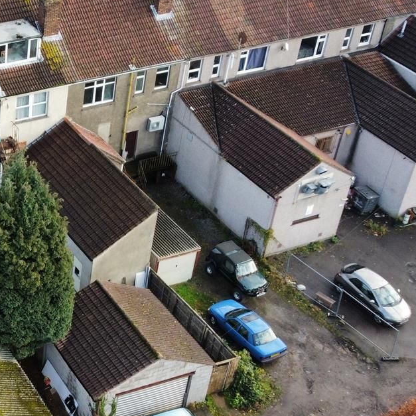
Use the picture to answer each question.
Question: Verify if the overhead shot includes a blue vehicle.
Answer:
Yes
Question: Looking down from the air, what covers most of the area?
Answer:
buildings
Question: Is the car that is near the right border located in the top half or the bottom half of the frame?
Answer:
bottom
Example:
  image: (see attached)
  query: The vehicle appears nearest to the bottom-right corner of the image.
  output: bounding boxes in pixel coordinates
[333,264,416,329]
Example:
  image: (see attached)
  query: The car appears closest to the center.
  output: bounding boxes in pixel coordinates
[207,236,278,303]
